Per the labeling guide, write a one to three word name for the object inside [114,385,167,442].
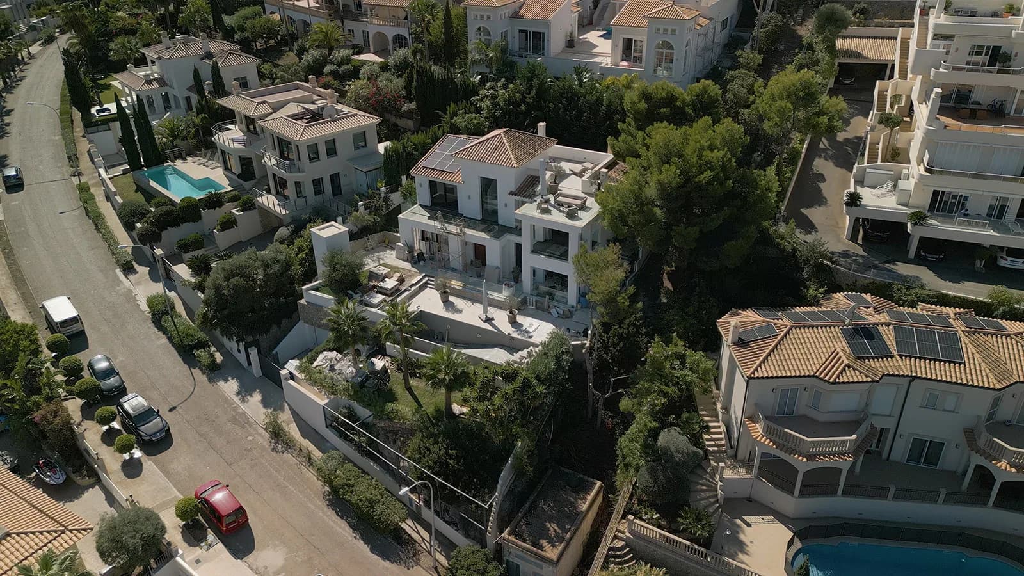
car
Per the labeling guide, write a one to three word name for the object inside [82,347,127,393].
car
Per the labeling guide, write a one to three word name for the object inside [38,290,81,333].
van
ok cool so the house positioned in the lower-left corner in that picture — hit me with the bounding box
[0,465,96,576]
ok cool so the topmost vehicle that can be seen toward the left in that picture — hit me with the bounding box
[0,162,23,183]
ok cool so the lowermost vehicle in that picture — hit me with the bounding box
[194,479,249,534]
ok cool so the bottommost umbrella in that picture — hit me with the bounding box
[477,279,496,324]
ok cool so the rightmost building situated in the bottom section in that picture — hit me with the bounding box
[709,289,1024,510]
